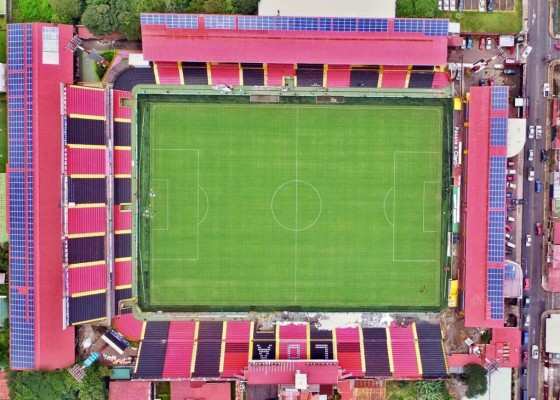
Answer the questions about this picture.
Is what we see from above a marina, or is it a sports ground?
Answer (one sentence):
The picture captures a sports ground.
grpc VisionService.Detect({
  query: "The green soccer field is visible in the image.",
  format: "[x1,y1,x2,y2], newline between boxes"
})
[150,103,444,306]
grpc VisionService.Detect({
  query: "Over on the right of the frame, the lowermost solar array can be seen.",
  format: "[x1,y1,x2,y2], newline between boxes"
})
[488,268,505,320]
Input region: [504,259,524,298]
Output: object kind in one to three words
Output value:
building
